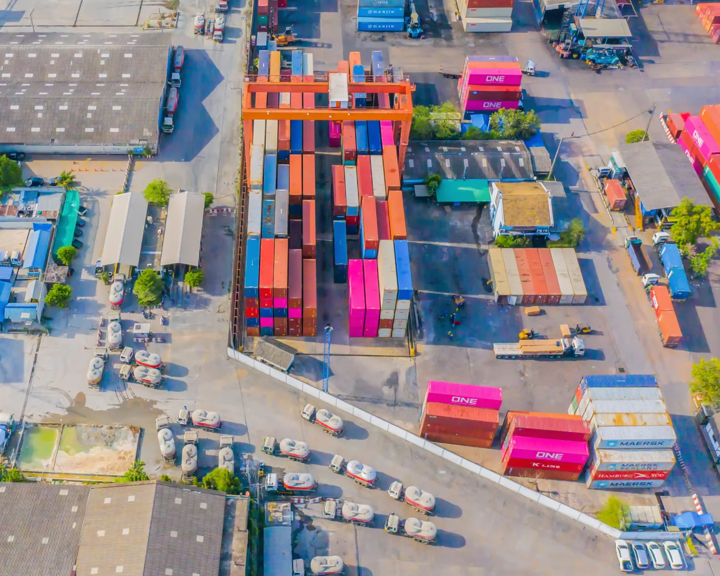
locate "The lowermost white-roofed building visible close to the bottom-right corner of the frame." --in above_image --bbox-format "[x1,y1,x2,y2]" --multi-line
[623,506,663,530]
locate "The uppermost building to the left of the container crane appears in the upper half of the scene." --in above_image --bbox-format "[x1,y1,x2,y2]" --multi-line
[0,31,175,162]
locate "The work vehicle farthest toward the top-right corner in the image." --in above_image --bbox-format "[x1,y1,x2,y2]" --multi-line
[587,49,616,68]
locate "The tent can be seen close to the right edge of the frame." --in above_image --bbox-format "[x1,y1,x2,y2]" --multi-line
[668,512,714,530]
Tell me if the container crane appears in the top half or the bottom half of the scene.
top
